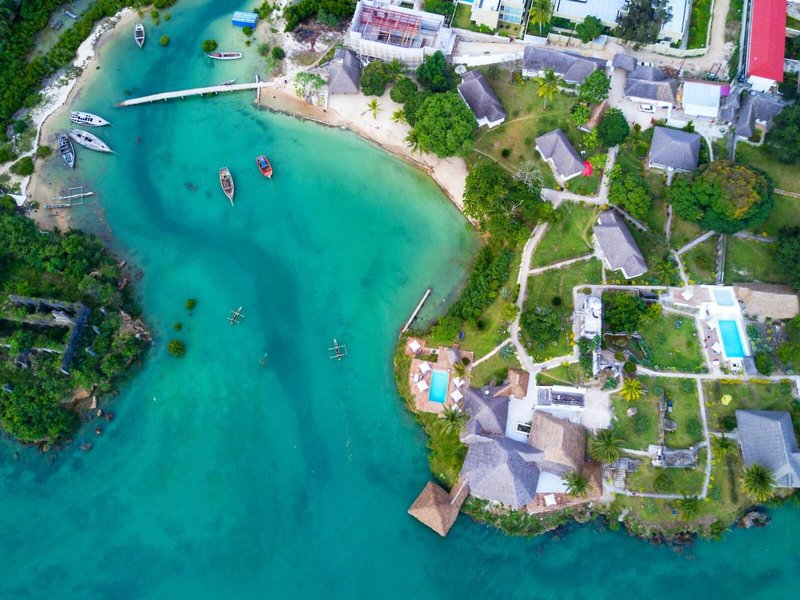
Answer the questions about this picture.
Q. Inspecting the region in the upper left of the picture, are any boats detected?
Yes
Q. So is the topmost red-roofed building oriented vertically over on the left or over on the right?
right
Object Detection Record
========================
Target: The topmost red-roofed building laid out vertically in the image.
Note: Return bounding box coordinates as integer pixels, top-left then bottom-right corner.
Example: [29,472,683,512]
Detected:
[741,0,787,88]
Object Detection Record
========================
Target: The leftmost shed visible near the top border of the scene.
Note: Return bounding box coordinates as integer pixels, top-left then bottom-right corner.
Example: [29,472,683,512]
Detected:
[233,11,259,30]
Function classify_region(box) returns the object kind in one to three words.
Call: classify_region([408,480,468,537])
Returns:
gazebo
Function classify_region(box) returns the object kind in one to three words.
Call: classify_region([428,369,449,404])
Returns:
swimming pool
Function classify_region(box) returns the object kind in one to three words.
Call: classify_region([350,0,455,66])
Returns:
building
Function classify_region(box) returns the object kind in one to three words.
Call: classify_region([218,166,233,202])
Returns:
boat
